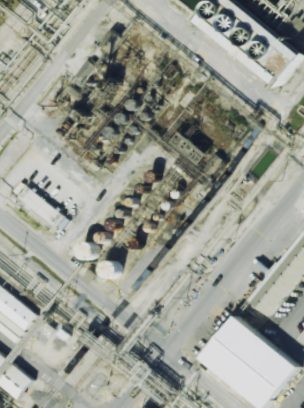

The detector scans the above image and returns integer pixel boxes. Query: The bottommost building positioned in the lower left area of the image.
[0,364,39,400]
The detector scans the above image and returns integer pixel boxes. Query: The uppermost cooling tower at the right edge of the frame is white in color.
[192,0,304,90]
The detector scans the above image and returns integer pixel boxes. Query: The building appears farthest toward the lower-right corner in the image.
[196,315,302,408]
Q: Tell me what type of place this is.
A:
industrial area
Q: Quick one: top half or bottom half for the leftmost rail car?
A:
bottom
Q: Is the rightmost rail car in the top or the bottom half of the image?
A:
top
